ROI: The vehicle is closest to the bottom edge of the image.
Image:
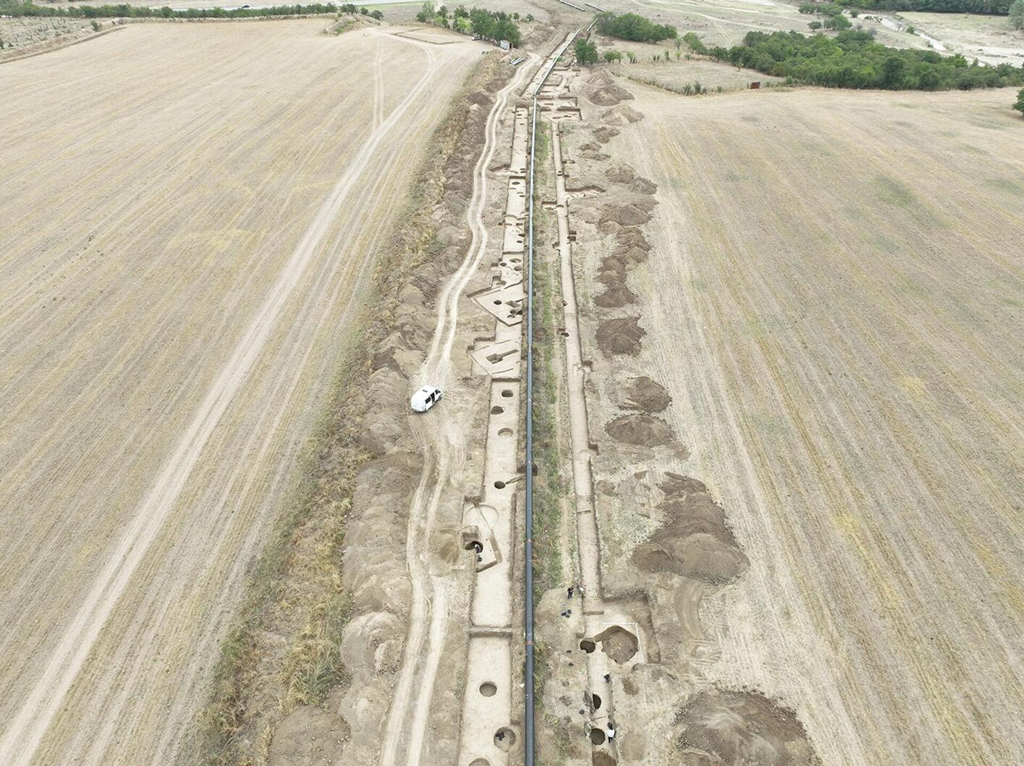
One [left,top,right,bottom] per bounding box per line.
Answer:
[412,385,445,411]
